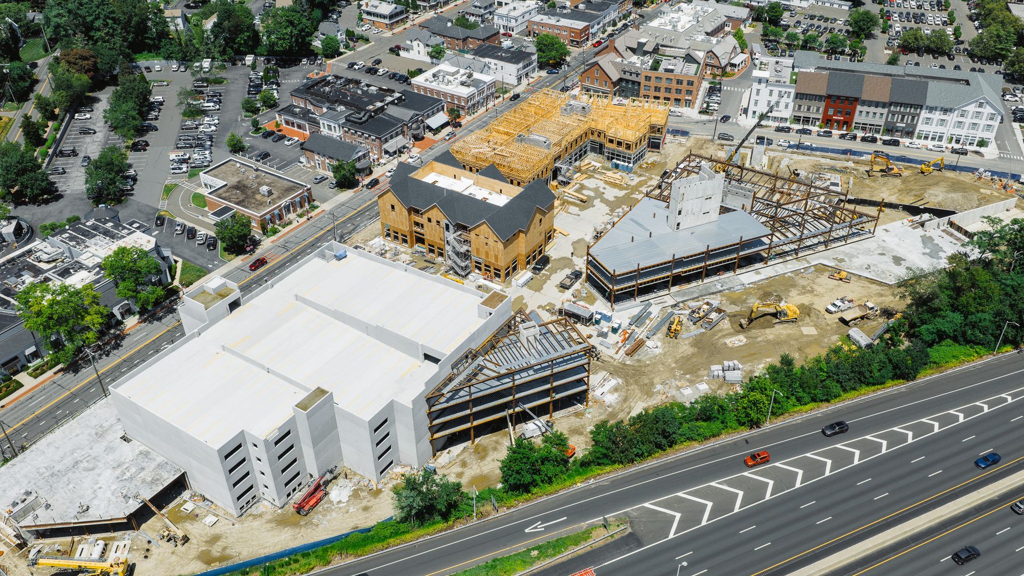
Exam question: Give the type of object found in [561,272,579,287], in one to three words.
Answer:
vehicle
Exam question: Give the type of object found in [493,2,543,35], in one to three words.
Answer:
building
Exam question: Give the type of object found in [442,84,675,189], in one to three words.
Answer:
building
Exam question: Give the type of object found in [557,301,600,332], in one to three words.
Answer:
trailer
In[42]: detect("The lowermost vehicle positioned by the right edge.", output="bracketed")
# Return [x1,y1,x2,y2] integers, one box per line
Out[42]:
[950,545,981,566]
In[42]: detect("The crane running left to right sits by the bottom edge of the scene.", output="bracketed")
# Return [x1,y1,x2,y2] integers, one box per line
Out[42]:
[25,536,149,576]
